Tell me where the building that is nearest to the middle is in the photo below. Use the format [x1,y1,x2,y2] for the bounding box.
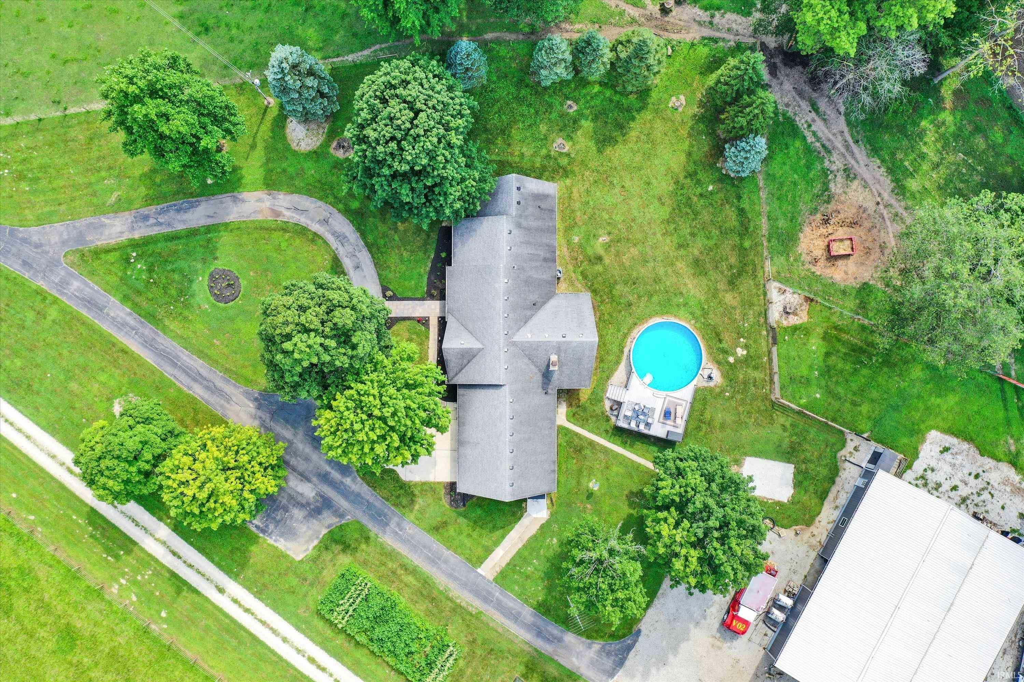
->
[442,173,599,502]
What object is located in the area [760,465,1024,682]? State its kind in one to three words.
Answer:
barn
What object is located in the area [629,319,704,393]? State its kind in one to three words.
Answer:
swimming pool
